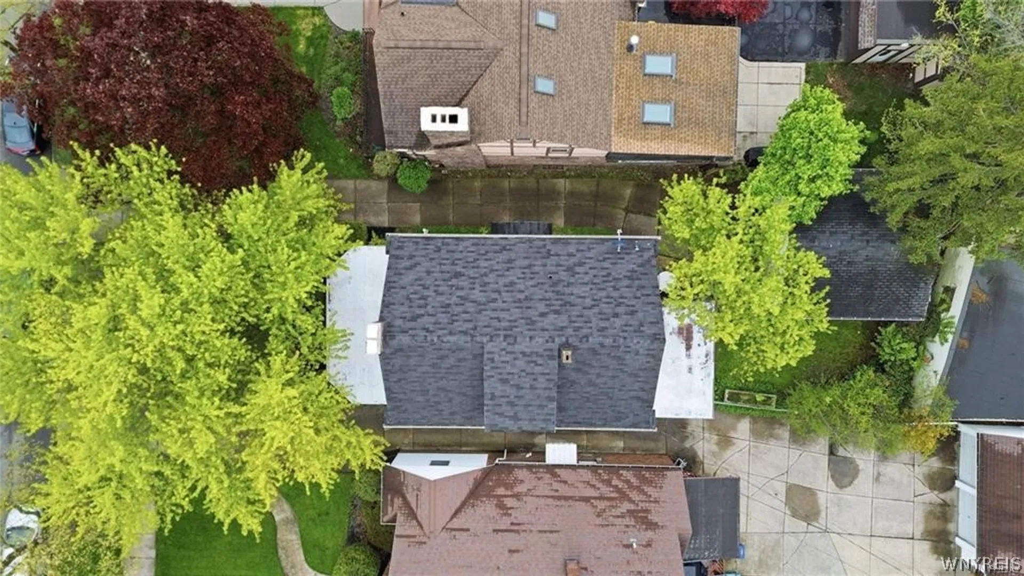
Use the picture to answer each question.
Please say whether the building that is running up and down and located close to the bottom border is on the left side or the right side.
right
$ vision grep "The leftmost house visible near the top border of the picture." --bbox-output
[375,0,742,167]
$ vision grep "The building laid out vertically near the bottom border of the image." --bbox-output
[958,419,1024,576]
